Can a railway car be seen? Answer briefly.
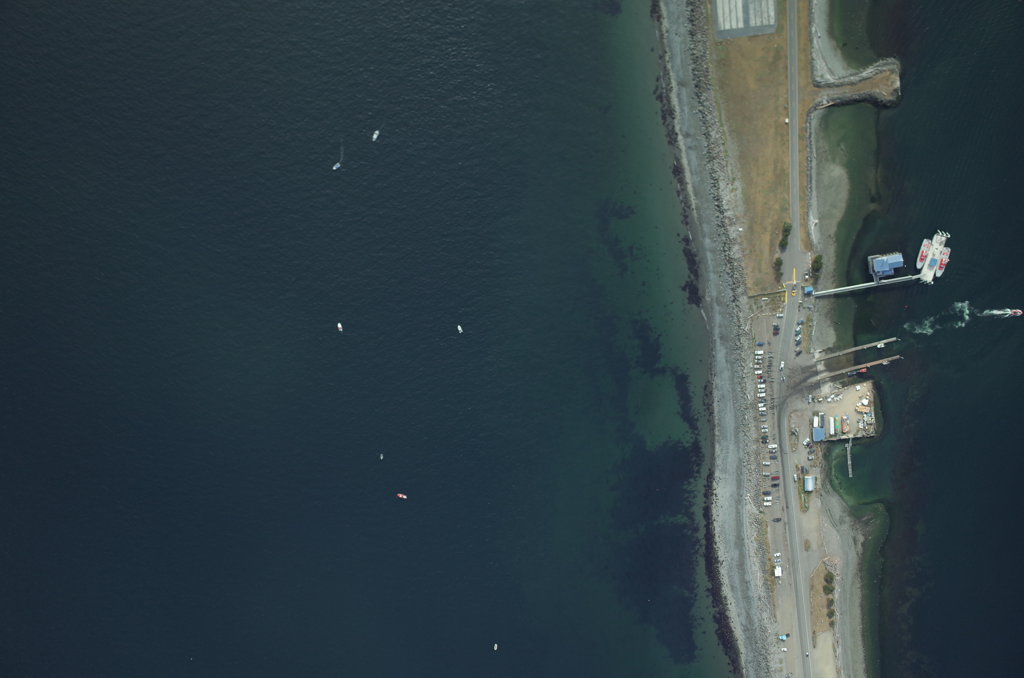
No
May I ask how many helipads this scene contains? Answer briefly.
0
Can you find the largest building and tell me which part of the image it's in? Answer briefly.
right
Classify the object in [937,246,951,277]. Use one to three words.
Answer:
boat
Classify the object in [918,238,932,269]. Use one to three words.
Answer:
boat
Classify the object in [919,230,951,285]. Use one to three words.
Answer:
ship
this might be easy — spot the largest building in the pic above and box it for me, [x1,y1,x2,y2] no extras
[867,251,904,283]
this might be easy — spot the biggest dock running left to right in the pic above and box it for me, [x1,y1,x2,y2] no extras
[814,276,913,297]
